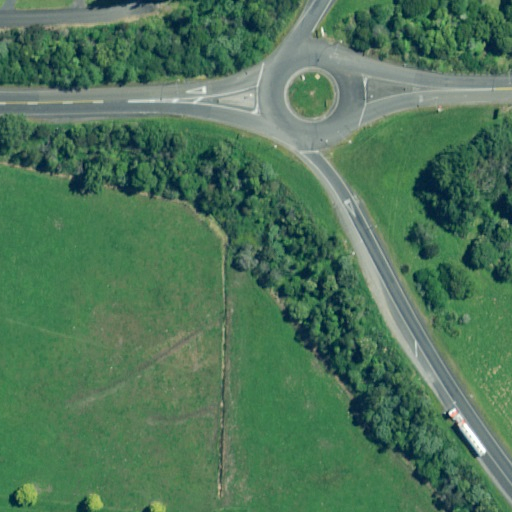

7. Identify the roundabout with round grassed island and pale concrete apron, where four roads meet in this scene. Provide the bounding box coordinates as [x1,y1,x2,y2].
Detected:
[206,31,412,153]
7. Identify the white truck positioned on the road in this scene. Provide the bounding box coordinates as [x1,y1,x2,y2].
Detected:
[448,408,486,456]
